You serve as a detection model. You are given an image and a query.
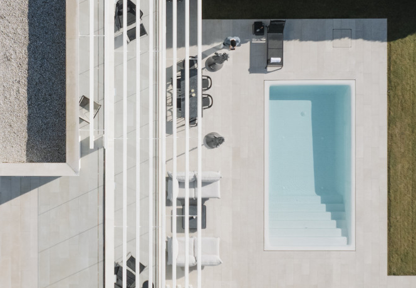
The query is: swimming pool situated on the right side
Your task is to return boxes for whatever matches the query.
[264,80,356,250]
